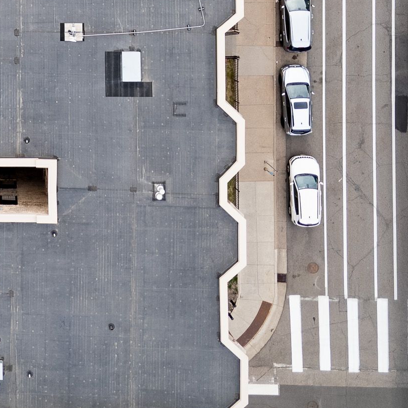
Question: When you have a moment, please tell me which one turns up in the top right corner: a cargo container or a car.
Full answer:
The feature located in the top right corner is a car.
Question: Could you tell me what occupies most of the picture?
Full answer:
For the most part, this view shows buildings.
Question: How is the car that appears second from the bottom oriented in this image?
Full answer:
From this overhead view, the car that appears second from the bottom appears to run up and down.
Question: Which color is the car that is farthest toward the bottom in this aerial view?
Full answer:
The car that is farthest toward the bottom looks white in the image.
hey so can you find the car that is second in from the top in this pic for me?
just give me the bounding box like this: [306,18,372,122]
[279,63,317,136]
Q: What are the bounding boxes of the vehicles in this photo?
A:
[287,153,326,228]
[279,0,317,54]
[279,63,317,136]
